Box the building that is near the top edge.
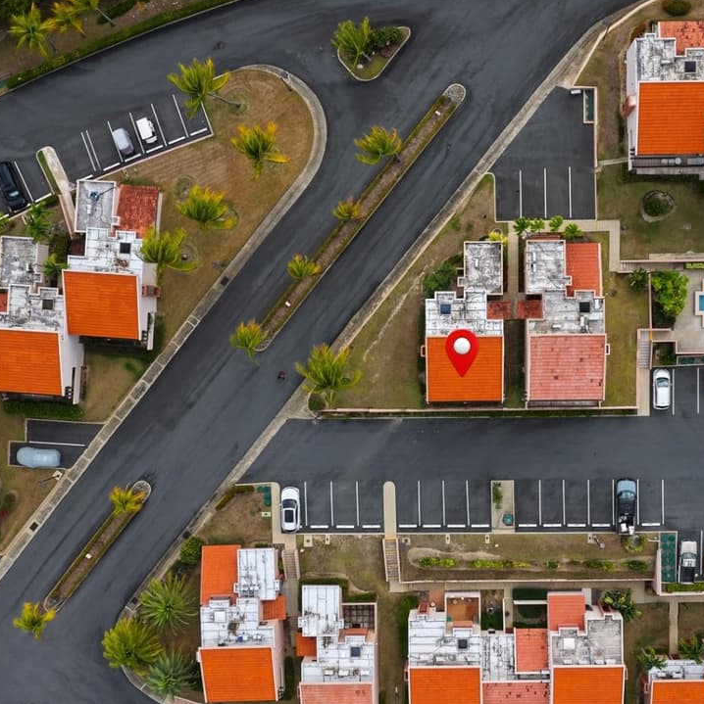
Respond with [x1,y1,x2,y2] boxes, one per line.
[627,22,704,175]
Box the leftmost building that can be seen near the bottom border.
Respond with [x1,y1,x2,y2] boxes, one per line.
[196,544,287,704]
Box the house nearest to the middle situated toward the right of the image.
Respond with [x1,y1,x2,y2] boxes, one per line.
[420,242,512,409]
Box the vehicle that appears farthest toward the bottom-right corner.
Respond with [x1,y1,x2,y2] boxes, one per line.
[679,537,699,583]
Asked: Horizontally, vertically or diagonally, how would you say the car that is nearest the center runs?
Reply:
vertically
